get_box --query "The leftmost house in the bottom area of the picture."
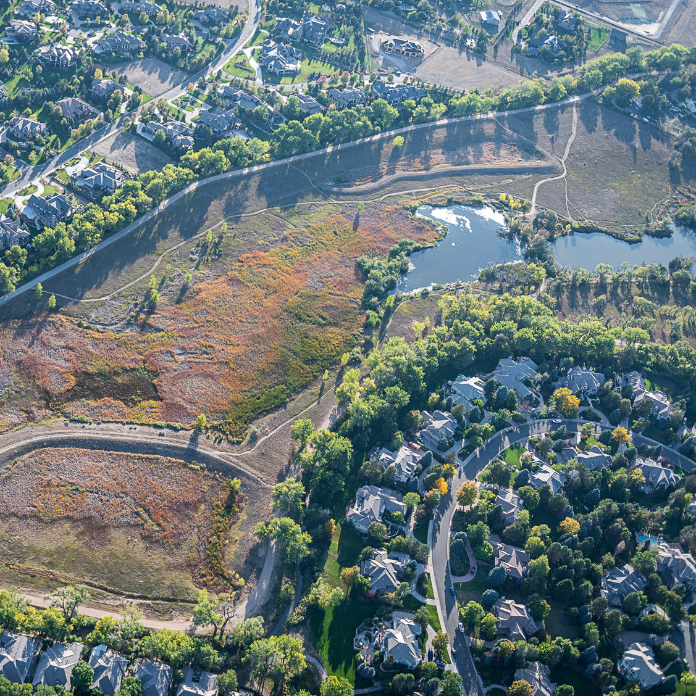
[0,639,37,688]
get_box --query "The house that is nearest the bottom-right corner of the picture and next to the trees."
[616,647,665,695]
